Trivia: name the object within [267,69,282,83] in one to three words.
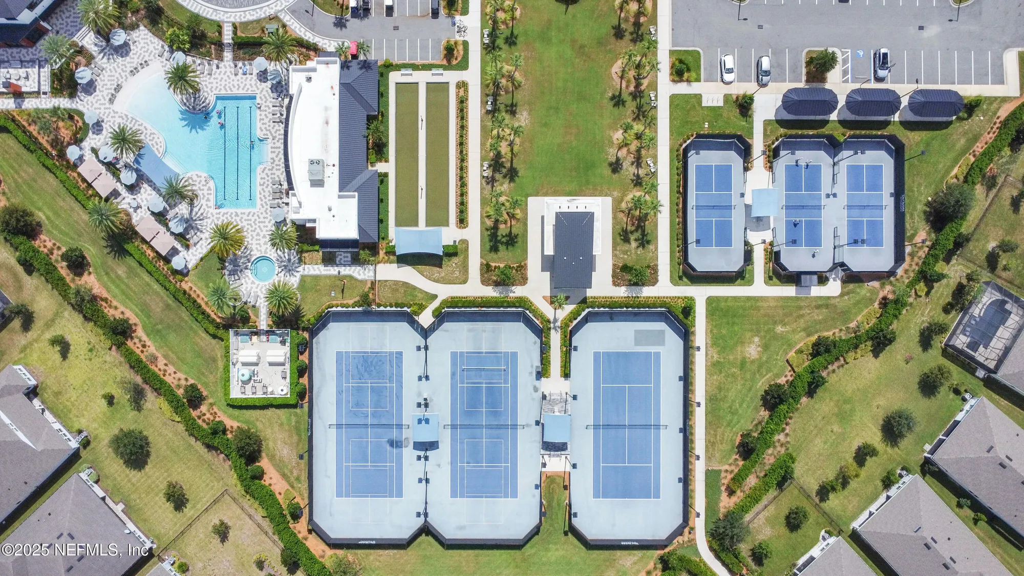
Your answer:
umbrella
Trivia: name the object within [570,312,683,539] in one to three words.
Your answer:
tennis court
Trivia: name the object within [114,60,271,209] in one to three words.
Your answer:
swimming pool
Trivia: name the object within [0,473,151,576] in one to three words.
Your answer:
house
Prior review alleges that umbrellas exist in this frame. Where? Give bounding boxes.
[120,168,137,185]
[171,53,187,67]
[83,109,101,125]
[148,197,164,213]
[254,56,268,71]
[75,67,92,84]
[170,215,186,232]
[267,69,282,83]
[271,208,285,222]
[171,255,187,270]
[66,145,84,160]
[98,145,116,162]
